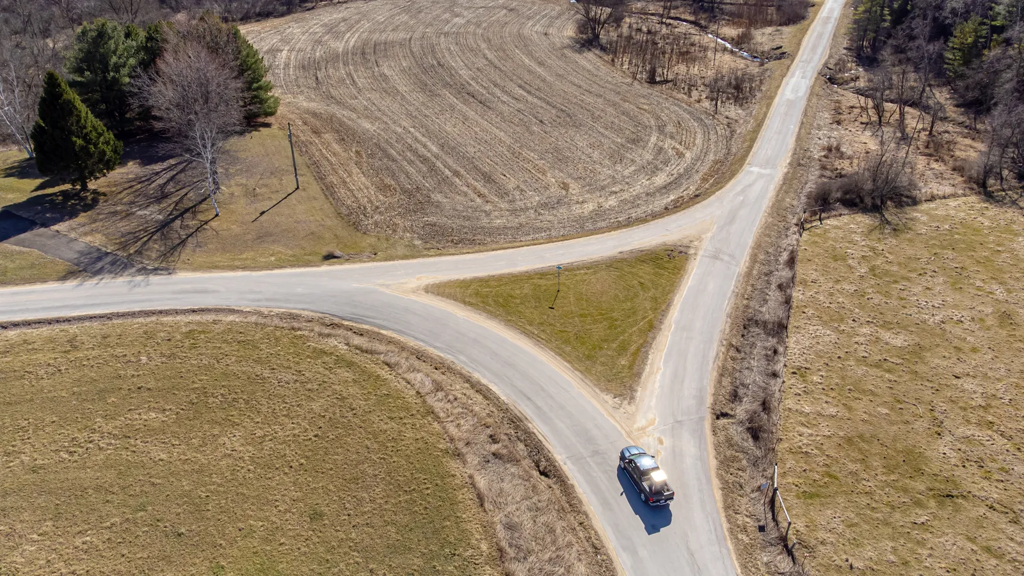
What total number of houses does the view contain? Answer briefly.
0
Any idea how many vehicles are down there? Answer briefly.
1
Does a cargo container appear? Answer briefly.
No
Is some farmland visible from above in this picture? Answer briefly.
Yes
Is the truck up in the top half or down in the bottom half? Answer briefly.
bottom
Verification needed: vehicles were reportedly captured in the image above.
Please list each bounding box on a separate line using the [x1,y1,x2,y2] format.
[620,445,673,503]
